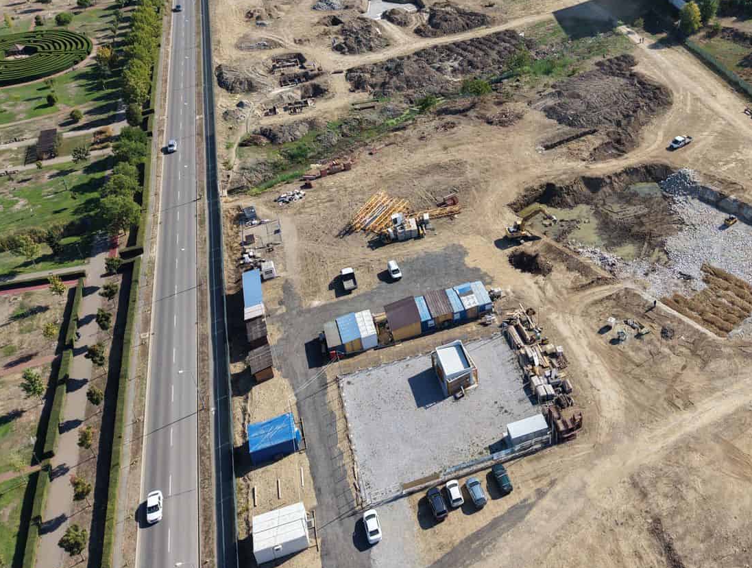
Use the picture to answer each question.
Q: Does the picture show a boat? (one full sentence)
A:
No, no boat is visible in the view.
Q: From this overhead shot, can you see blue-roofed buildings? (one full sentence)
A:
Yes, there's a blue-roofed building down there.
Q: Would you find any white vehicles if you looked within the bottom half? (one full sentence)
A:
Yes, there is a white vehicle within the bottom half.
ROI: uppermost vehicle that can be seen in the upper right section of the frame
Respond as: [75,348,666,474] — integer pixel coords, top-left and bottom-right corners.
[667,132,695,149]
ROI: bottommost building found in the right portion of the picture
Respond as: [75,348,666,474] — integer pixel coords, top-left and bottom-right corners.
[435,341,479,399]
